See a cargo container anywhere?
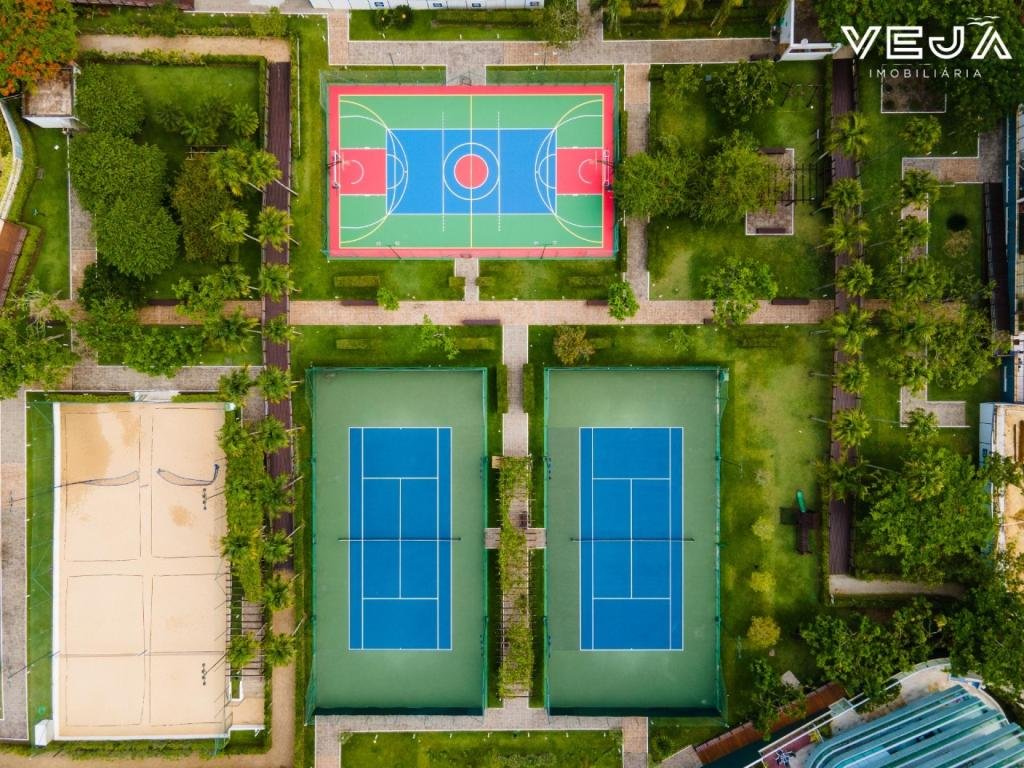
No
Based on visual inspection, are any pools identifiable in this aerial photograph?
No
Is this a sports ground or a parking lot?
sports ground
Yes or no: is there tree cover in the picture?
Yes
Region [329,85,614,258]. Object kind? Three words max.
sports court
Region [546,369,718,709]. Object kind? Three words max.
tennis court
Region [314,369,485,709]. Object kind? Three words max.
tennis court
